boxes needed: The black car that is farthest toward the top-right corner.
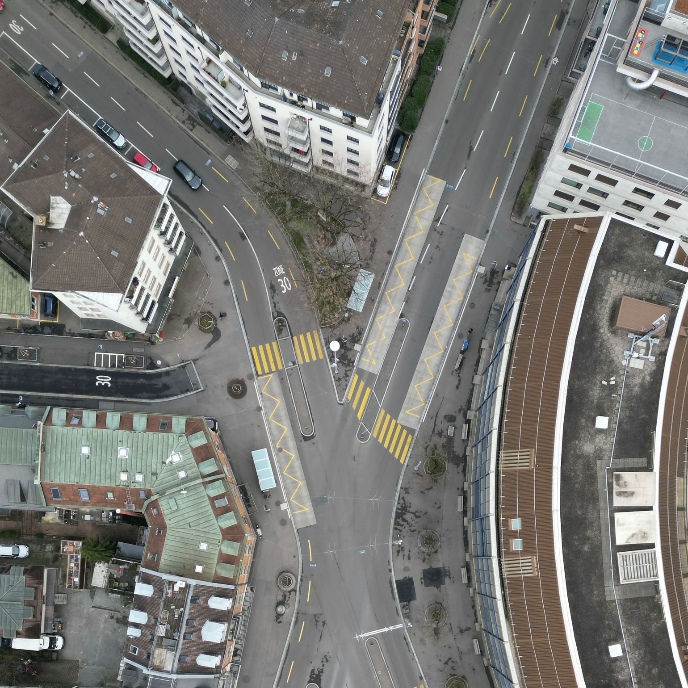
[385,130,409,166]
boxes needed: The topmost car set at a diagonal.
[31,61,67,96]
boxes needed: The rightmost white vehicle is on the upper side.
[376,163,398,200]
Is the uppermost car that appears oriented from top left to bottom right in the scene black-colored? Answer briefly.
Yes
